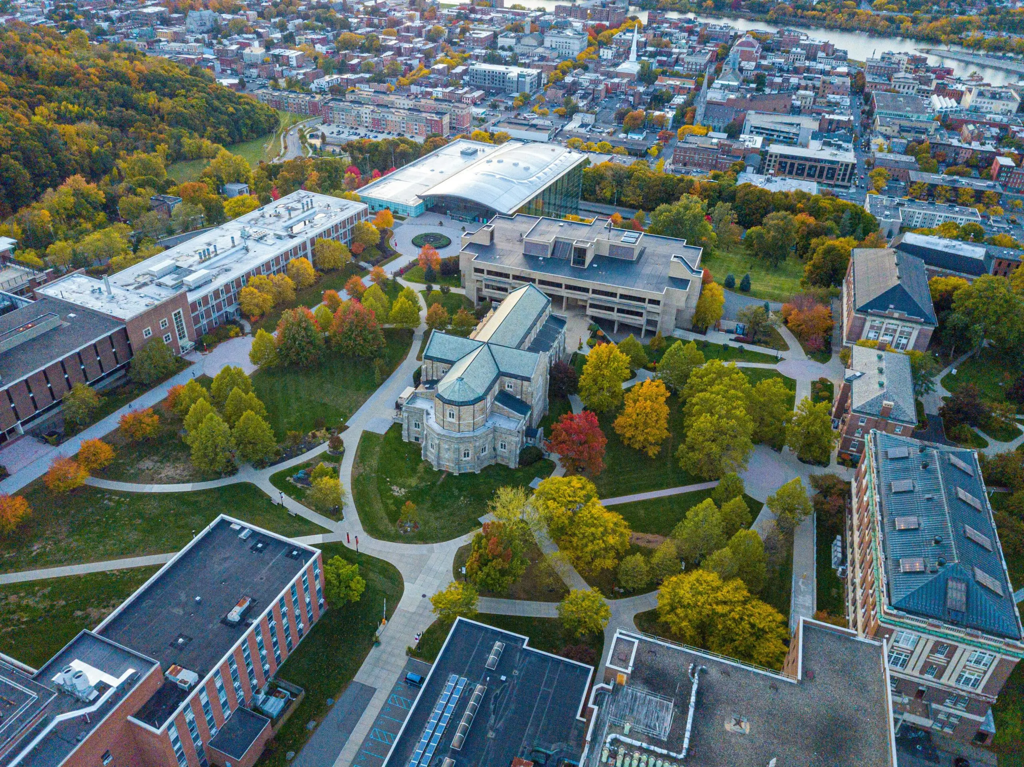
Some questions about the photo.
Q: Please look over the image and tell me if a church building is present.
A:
Yes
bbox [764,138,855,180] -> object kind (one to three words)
building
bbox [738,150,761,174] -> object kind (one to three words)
house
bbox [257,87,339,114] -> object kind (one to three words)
building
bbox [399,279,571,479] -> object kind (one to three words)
church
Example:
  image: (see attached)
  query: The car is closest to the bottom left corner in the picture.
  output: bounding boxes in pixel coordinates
[400,671,427,689]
